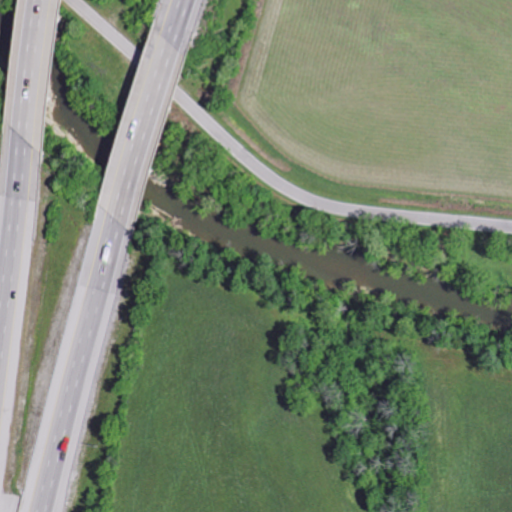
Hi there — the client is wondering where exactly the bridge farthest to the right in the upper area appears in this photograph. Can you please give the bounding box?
[96,20,186,238]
